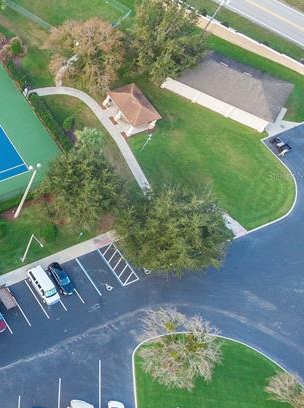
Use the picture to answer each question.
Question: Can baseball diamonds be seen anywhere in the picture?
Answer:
No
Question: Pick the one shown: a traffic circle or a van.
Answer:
van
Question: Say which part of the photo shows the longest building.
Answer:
top right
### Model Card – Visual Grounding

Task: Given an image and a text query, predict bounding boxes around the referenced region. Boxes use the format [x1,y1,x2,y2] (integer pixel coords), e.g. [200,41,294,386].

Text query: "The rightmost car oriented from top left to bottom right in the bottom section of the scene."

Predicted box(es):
[47,261,75,296]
